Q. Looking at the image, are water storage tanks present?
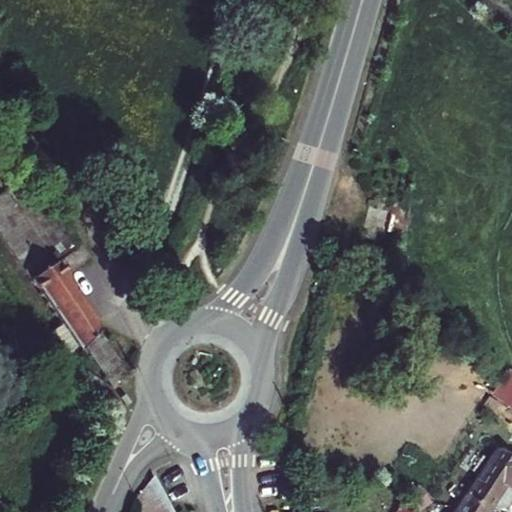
No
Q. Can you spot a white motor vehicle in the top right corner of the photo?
No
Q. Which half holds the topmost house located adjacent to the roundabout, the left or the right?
left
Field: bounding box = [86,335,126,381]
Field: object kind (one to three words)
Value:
shed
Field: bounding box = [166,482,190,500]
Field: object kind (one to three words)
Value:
car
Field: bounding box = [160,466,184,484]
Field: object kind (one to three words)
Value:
car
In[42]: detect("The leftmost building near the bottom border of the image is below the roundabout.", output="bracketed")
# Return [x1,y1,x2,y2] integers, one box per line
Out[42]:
[137,474,176,512]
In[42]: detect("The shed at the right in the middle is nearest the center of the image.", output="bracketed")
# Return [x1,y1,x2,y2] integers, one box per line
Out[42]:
[365,206,388,228]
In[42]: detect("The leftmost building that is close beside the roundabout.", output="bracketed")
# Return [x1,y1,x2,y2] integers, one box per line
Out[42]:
[35,256,104,348]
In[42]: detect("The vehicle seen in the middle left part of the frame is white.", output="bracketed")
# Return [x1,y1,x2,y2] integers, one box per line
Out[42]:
[74,270,93,296]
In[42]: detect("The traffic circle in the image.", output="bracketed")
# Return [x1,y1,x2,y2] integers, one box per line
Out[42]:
[136,306,276,452]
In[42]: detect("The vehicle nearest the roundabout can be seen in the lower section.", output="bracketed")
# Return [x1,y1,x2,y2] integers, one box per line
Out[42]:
[192,452,208,477]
